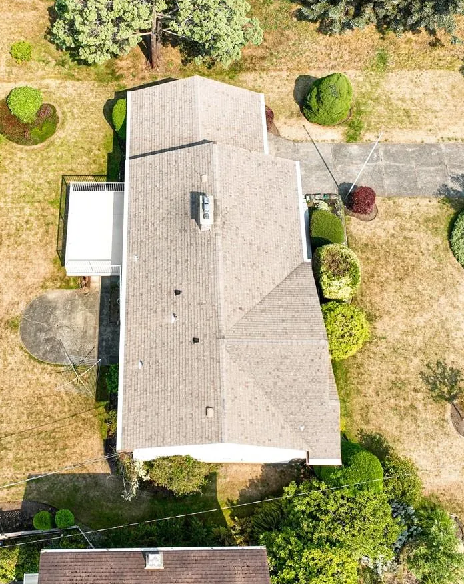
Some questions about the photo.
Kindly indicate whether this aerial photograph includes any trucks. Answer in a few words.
No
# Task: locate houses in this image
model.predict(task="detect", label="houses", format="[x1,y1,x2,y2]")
[23,545,272,584]
[115,76,342,473]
